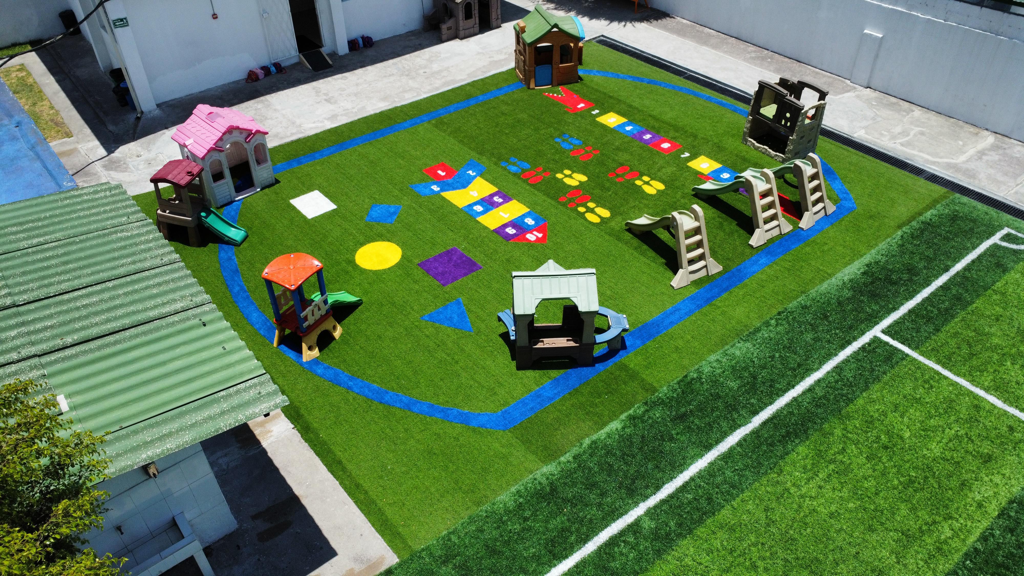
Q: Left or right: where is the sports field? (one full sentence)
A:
The sports field appears in the right half of the scene.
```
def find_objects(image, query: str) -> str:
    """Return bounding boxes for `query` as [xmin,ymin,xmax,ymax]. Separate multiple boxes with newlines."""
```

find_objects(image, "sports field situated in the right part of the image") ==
[376,192,1024,576]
